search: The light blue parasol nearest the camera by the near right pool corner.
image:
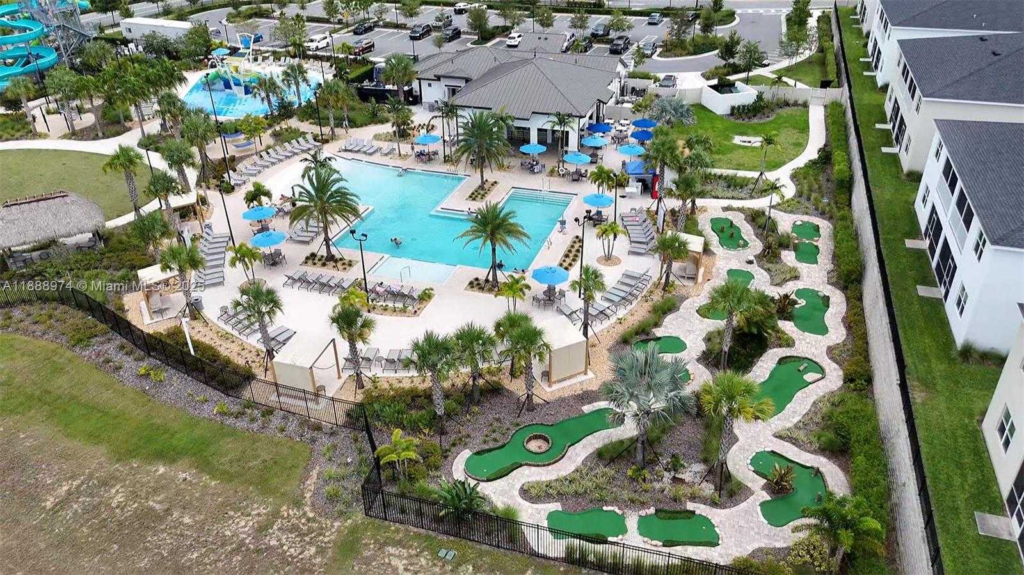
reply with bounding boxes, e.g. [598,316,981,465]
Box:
[532,266,568,294]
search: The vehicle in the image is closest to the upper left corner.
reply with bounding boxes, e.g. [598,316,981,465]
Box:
[207,23,226,36]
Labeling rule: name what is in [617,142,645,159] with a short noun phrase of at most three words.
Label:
umbrella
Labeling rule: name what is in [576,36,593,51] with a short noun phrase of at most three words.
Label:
car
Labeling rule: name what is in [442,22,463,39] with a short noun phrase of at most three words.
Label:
car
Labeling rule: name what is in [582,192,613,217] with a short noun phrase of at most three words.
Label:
umbrella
